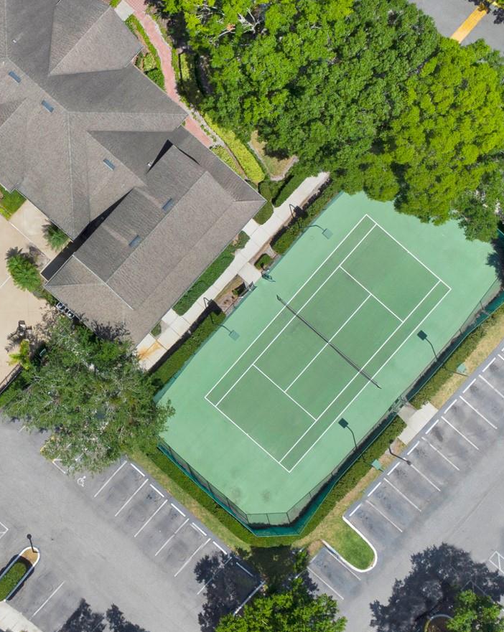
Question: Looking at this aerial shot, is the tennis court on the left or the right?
right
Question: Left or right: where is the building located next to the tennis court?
left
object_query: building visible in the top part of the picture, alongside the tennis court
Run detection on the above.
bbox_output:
[0,0,267,356]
